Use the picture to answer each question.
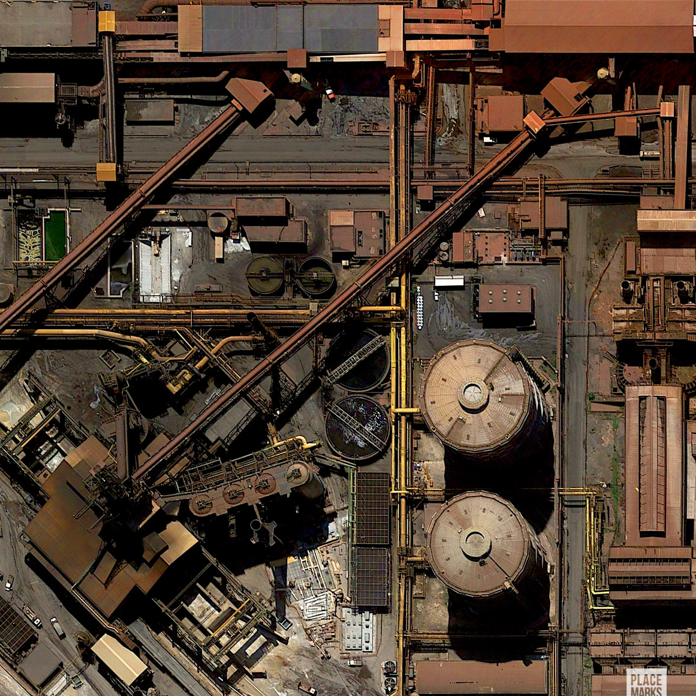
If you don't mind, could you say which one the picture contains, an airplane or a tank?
tank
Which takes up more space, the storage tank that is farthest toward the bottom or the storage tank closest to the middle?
the storage tank that is farthest toward the bottom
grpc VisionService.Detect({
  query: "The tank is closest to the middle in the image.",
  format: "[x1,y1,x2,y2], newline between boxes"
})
[325,327,391,394]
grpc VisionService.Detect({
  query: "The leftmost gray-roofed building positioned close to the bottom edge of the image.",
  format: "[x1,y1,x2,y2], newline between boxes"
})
[18,641,65,686]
